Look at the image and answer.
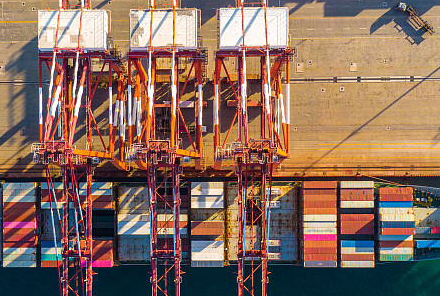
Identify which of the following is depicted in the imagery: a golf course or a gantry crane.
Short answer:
gantry crane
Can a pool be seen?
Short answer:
No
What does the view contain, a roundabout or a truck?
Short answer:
truck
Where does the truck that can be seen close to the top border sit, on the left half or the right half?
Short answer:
right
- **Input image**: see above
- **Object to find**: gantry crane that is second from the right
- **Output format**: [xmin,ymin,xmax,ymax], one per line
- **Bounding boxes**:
[124,0,213,296]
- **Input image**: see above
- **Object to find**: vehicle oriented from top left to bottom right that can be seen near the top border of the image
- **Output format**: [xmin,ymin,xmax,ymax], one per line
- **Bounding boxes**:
[399,1,437,34]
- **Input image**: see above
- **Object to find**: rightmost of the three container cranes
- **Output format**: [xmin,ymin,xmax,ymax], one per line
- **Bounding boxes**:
[202,0,300,296]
